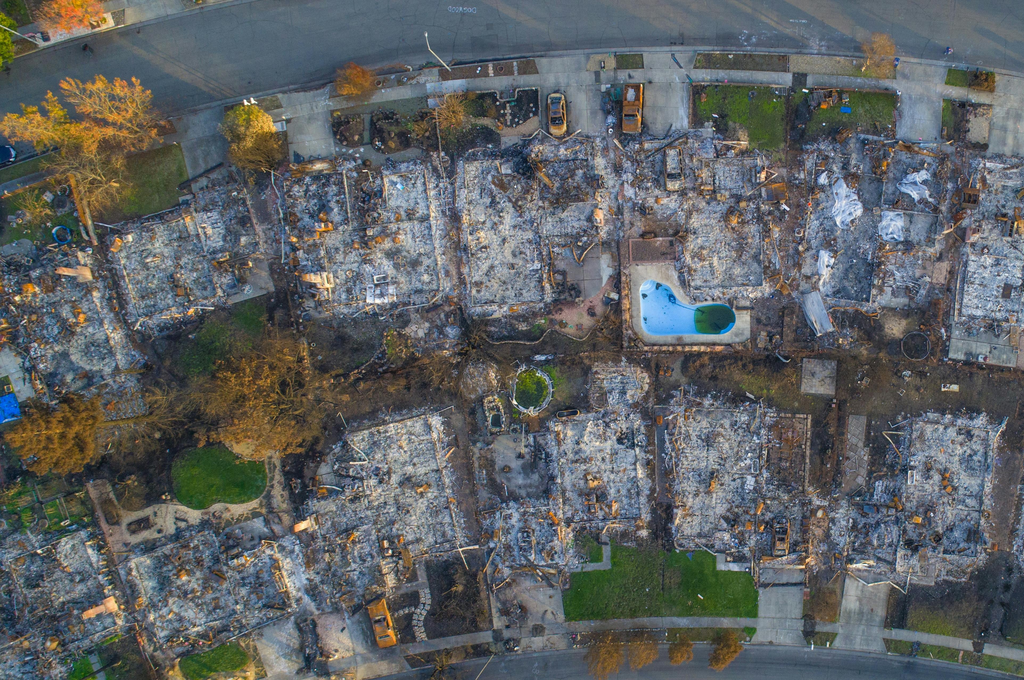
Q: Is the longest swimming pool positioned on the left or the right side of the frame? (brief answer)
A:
right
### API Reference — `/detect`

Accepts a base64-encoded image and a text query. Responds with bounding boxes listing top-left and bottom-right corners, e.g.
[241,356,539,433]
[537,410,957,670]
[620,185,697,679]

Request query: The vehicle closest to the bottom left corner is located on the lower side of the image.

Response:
[365,599,394,652]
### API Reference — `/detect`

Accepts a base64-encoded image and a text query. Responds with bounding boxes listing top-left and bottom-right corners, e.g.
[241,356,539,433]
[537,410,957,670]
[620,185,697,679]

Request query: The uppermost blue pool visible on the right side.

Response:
[638,278,737,337]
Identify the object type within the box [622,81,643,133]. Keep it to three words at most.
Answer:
truck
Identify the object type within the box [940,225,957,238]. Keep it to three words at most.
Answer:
chimney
